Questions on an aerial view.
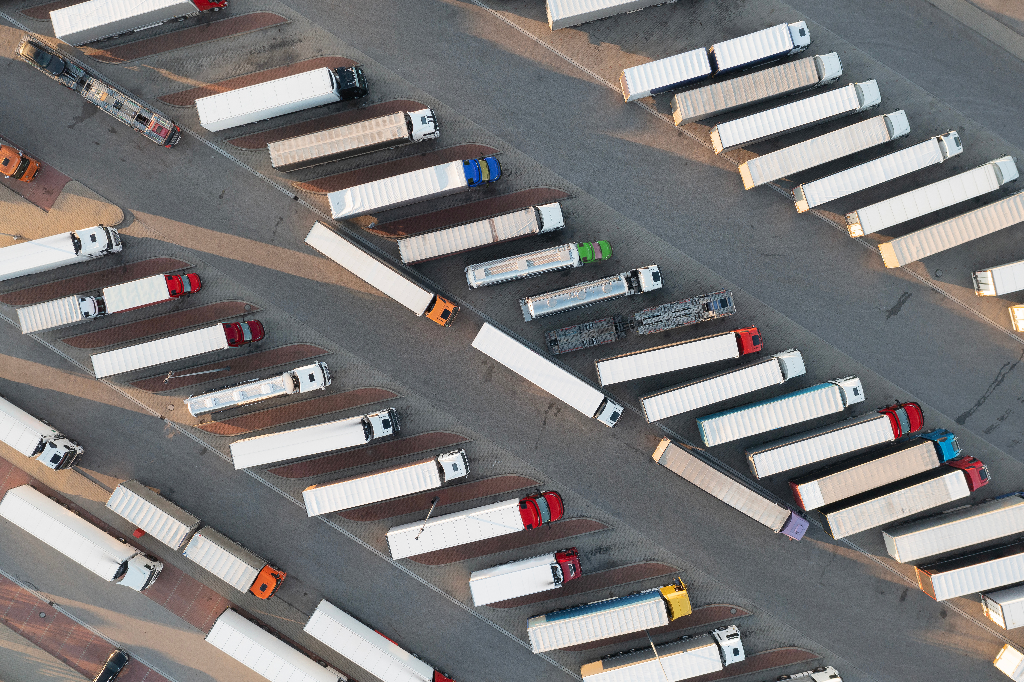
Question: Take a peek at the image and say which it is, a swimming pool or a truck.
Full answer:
Visible in the photo is a truck.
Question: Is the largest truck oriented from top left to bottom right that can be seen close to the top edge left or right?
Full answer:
You can find the largest truck oriented from top left to bottom right that can be seen close to the top edge on the left side of the picture.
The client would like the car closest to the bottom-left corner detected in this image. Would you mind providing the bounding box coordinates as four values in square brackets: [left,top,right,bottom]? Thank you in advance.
[94,648,129,682]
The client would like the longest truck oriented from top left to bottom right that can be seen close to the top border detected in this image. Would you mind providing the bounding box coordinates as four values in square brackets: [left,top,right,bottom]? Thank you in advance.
[14,32,190,152]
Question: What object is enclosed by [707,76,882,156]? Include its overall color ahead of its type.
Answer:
white truck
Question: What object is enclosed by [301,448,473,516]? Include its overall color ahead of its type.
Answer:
white truck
